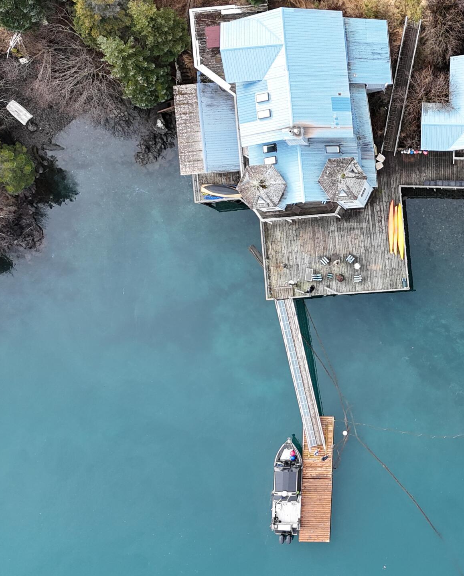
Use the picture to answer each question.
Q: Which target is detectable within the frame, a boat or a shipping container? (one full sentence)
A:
Looking from above, you can make out a boat.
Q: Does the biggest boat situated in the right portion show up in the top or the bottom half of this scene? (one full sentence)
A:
The biggest boat situated in the right portion sits in the bottom half of the picture.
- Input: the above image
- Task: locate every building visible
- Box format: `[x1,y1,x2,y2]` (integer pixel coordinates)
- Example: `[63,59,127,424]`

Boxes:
[421,55,464,165]
[220,6,394,215]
